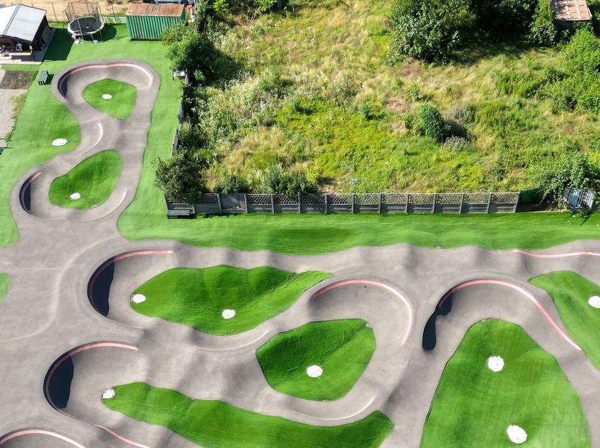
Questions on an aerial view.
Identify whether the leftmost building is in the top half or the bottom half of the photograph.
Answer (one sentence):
You can find the leftmost building in the top half.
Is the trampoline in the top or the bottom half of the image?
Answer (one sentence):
Seen from above, the trampoline lies in the top half of the view.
